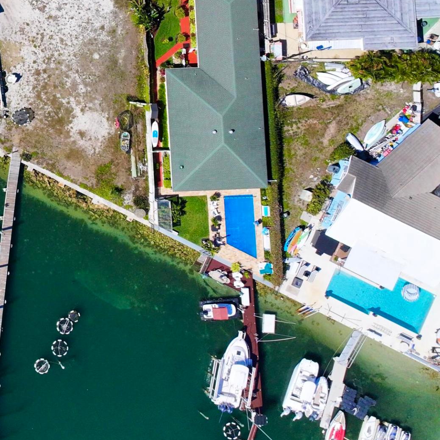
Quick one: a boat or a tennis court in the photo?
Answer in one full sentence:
Of the two, only a boat appears.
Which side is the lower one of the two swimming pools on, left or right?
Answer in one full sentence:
The lower one of the two swimming pools is on the right side of the image.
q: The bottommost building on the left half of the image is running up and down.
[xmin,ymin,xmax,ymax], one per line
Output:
[155,198,173,233]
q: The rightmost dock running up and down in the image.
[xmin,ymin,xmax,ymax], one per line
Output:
[316,358,345,427]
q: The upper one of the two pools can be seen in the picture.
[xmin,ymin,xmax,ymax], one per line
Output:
[221,191,261,264]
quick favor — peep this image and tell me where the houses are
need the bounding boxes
[293,0,440,50]
[317,119,440,291]
[162,0,268,192]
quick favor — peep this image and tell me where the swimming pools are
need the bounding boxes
[221,191,261,264]
[323,267,439,339]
